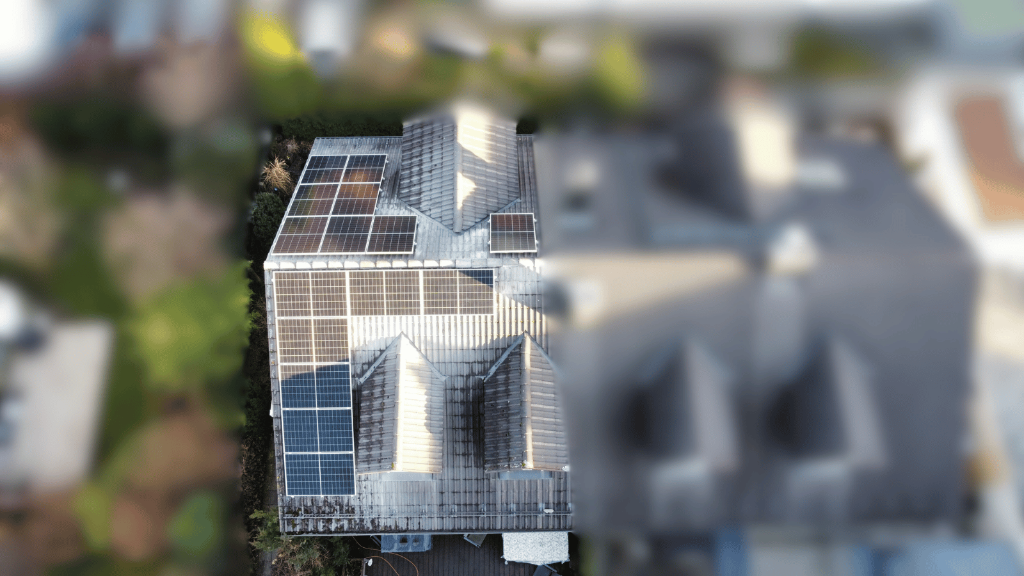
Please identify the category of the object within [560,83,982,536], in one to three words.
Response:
house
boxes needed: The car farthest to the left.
[108,0,169,52]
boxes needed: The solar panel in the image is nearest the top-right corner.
[486,213,540,251]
